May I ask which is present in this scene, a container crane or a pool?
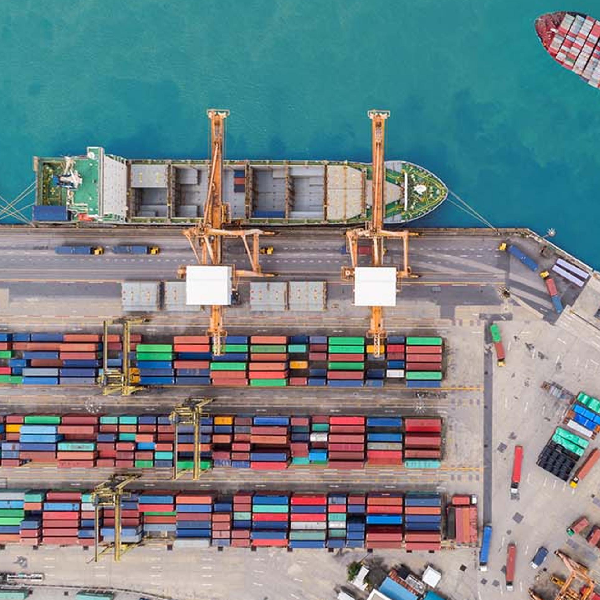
container crane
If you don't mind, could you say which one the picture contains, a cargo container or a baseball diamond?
cargo container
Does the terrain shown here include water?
Yes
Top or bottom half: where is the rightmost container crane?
bottom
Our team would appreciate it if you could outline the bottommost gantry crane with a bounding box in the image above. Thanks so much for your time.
[522,544,600,600]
